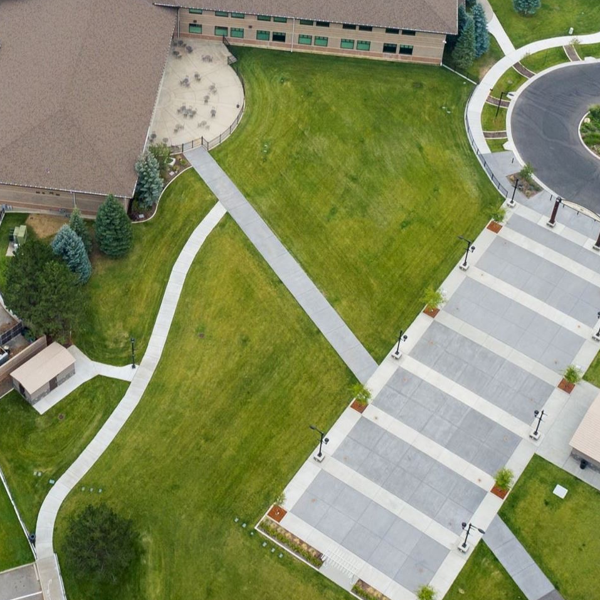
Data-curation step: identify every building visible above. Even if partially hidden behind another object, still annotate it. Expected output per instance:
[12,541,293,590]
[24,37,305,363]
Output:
[0,0,459,220]
[12,343,75,405]
[569,394,600,472]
